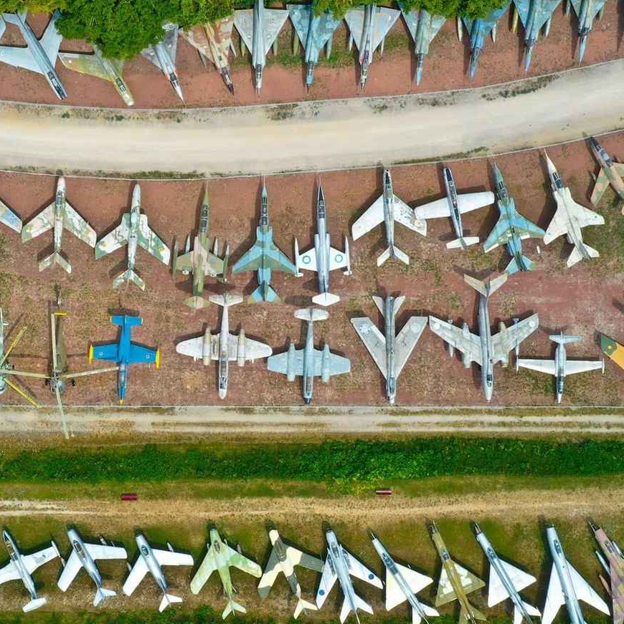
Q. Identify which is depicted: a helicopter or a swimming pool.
helicopter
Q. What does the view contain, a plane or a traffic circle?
plane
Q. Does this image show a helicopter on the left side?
Yes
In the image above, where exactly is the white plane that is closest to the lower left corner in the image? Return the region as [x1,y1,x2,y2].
[0,530,60,613]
